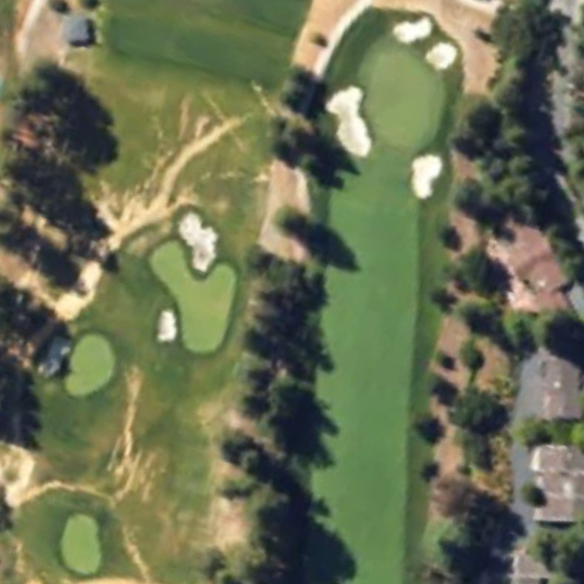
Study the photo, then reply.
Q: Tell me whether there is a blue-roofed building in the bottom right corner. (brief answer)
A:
No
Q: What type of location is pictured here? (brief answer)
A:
golf course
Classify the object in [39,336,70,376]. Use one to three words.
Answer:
shed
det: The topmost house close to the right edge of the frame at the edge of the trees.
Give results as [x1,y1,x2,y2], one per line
[494,225,576,313]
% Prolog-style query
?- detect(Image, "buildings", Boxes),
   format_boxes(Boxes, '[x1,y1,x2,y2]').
[39,336,70,376]
[65,15,93,43]
[494,225,576,313]
[512,547,546,584]
[531,446,584,523]
[533,350,584,420]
